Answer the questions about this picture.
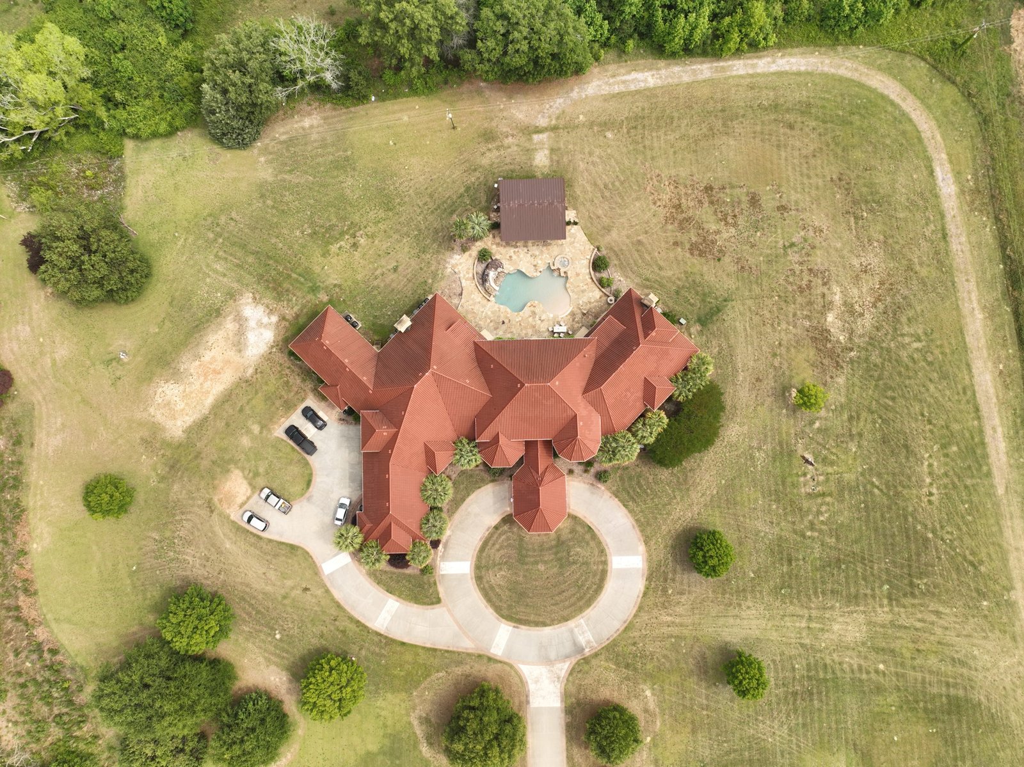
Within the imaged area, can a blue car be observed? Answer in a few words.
No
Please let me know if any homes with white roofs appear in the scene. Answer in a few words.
No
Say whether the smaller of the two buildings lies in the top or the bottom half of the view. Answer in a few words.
top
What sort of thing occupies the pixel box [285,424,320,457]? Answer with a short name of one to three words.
truck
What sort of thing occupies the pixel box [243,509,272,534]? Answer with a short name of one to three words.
car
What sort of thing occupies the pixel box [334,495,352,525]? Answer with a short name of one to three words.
car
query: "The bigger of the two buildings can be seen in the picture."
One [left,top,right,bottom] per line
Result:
[288,287,701,553]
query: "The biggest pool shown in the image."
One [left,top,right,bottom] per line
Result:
[494,263,572,317]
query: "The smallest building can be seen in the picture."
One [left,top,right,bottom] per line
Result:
[499,178,566,241]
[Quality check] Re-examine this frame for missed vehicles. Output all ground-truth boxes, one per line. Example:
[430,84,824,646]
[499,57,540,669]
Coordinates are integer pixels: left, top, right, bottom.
[285,424,320,457]
[334,495,352,525]
[260,485,295,517]
[243,509,272,534]
[302,405,330,433]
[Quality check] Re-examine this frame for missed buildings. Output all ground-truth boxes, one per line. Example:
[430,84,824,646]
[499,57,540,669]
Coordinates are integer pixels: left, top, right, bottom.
[499,178,566,241]
[288,287,701,553]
